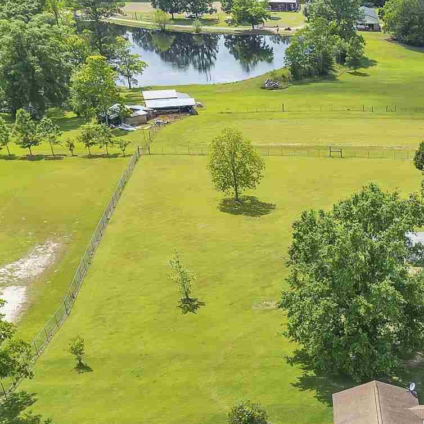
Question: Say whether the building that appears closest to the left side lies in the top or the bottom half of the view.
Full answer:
You can find the building that appears closest to the left side in the top half.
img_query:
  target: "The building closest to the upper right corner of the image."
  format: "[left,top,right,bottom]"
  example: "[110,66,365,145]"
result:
[350,8,381,31]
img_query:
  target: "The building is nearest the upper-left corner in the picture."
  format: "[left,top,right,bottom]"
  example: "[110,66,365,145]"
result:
[99,103,152,125]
